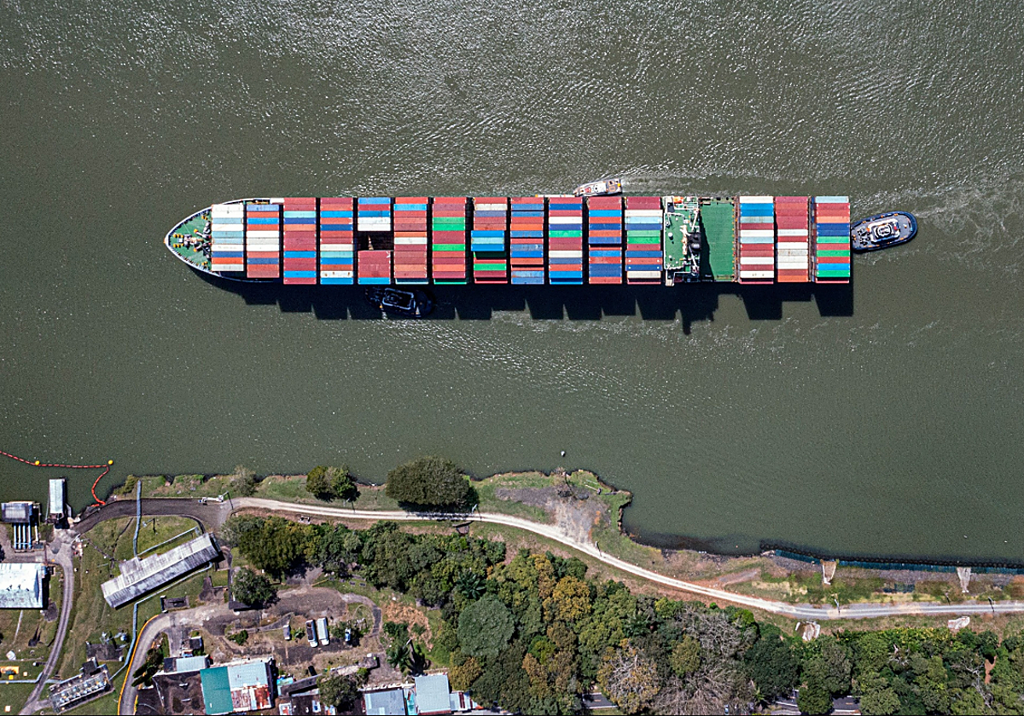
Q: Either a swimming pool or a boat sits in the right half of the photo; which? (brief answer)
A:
boat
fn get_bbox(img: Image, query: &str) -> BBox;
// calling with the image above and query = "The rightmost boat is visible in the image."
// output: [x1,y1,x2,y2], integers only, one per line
[850,210,921,252]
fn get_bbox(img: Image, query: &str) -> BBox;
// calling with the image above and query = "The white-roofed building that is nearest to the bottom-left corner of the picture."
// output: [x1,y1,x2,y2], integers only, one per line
[0,560,55,608]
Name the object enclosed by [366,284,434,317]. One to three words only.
boat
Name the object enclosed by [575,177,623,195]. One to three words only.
boat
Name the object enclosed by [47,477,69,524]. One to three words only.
shed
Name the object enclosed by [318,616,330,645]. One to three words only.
vehicle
